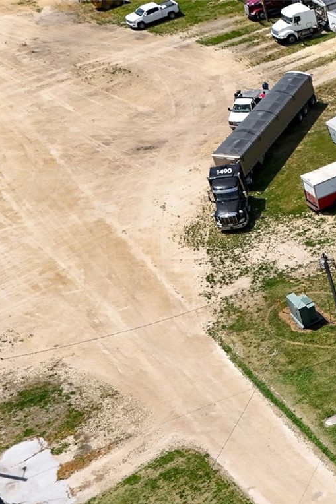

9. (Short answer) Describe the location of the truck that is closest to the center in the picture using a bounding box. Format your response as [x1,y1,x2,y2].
[209,157,255,231]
